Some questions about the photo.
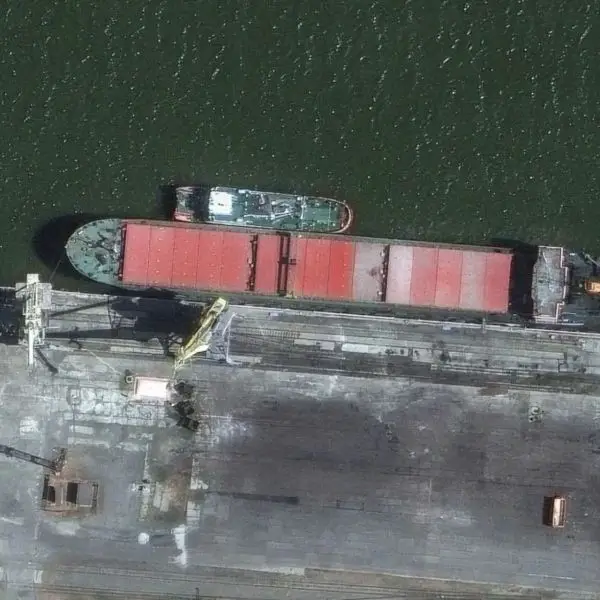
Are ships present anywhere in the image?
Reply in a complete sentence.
Yes, a ship appears in the view.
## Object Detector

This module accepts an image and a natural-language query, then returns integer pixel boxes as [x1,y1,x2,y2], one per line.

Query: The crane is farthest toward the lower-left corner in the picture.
[0,446,99,514]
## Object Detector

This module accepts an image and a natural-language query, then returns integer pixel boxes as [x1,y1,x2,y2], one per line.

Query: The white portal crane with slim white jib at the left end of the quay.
[15,274,57,368]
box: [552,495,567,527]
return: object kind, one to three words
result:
vehicle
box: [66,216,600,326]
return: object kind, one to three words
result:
ship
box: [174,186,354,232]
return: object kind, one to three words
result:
ship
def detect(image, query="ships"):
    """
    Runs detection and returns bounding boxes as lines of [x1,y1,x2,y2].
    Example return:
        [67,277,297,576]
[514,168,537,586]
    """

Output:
[66,216,600,326]
[174,186,354,232]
